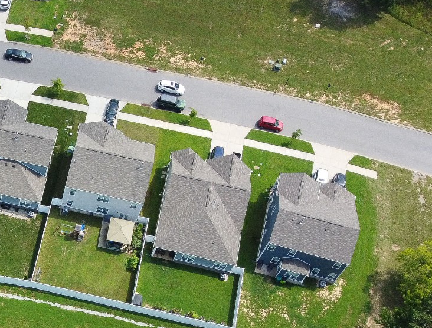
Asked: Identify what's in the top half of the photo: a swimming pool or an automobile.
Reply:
automobile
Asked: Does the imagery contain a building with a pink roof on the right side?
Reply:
No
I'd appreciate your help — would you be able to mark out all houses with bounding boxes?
[61,120,155,224]
[151,144,251,274]
[0,99,59,212]
[256,173,360,287]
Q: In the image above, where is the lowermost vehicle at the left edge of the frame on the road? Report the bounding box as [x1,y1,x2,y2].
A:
[5,47,34,63]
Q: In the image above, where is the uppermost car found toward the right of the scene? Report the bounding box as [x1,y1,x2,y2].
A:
[256,113,286,132]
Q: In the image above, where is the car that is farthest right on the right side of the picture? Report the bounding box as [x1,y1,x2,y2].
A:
[333,170,349,186]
